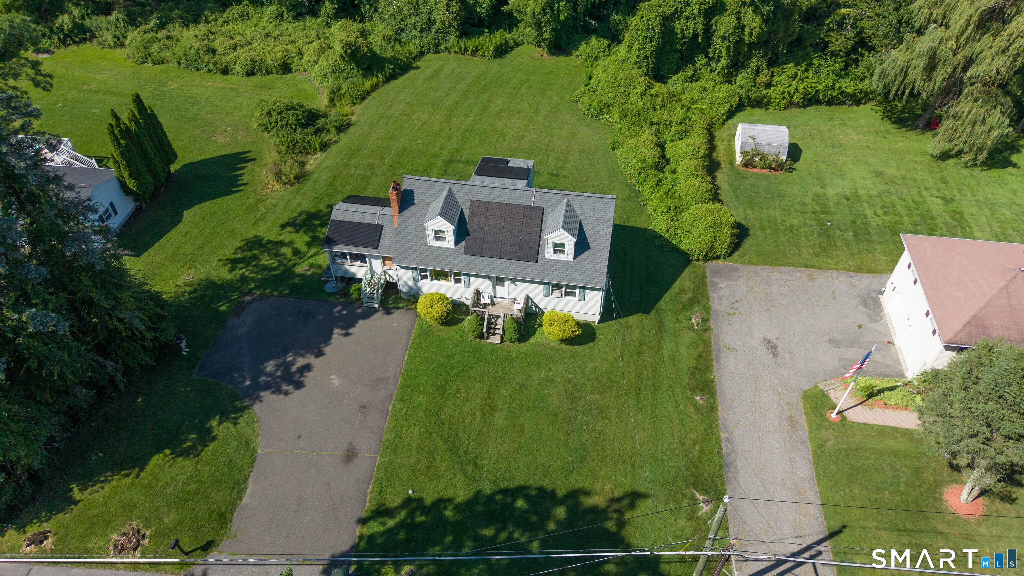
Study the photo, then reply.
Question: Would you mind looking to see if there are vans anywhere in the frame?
No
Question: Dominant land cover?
grass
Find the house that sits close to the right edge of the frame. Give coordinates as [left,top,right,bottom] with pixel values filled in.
[875,232,1024,382]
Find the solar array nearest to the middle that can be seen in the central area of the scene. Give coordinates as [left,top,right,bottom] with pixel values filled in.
[464,202,543,262]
